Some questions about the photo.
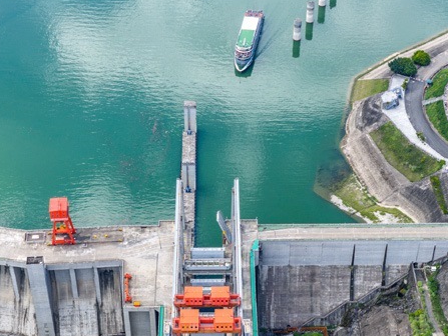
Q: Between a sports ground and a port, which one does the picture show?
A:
port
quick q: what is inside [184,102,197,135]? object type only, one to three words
pier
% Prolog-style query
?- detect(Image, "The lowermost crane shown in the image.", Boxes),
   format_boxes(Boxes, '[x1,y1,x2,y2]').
[167,309,247,336]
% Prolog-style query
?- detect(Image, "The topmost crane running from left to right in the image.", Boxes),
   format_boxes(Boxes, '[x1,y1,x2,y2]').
[167,285,246,311]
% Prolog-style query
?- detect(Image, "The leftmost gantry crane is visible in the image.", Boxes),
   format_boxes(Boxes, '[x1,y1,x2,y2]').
[48,194,78,247]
